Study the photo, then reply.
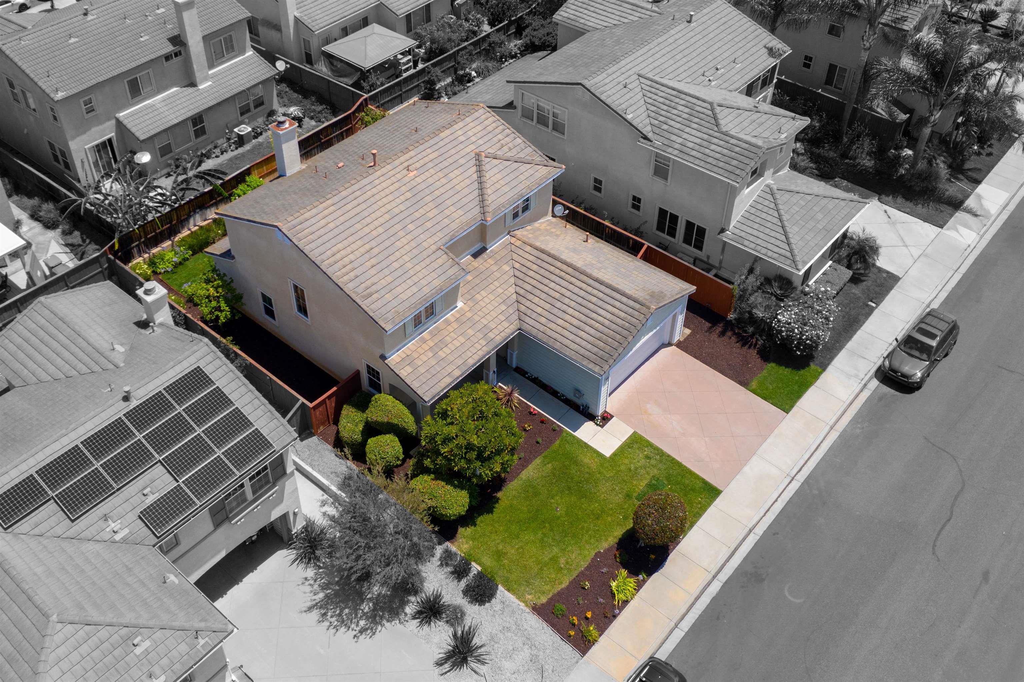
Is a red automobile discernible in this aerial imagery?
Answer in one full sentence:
No, I can't see a single red automobile in this photo.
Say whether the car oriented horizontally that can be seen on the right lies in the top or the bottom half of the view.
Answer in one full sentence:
The car oriented horizontally that can be seen on the right sits in the bottom half of the picture.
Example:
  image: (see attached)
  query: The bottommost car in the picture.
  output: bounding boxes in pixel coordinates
[632,651,695,682]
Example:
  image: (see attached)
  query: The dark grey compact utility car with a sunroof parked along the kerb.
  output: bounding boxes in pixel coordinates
[888,300,967,384]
